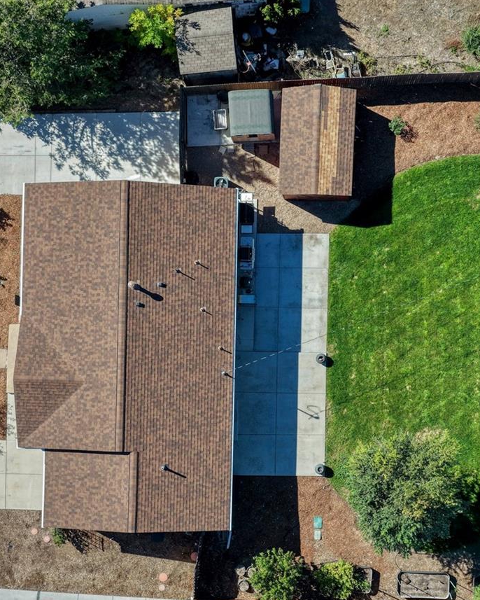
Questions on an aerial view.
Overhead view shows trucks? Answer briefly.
No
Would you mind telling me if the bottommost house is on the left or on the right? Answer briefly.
left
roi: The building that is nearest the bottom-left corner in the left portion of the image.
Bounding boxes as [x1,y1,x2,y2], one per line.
[13,181,241,549]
